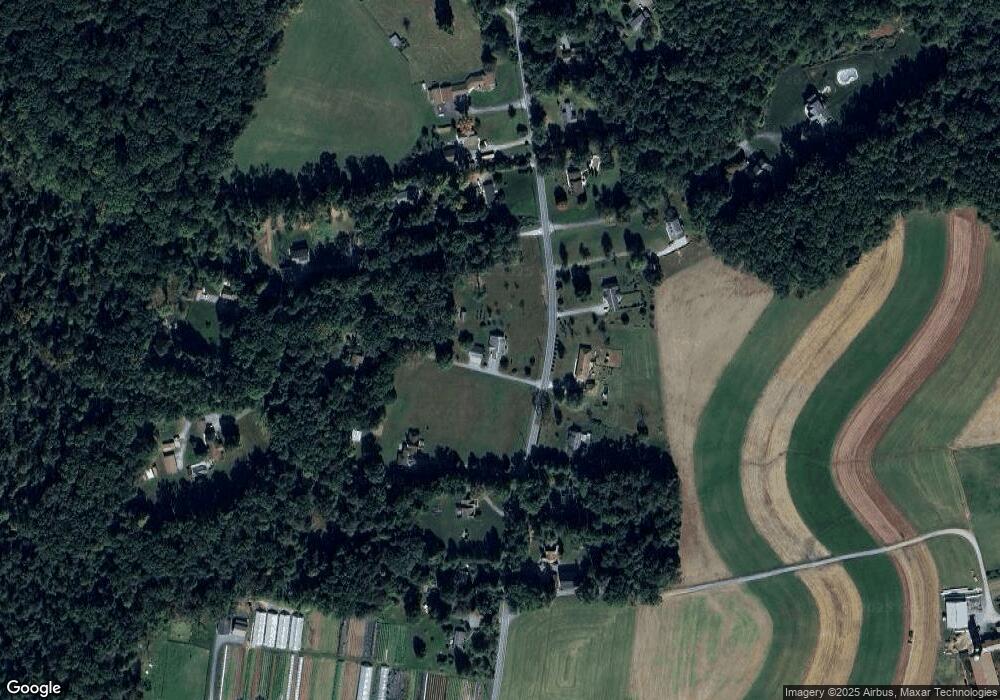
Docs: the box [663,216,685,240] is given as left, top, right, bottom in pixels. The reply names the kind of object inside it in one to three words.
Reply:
house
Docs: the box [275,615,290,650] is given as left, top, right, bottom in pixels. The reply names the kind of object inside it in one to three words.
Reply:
greenhouse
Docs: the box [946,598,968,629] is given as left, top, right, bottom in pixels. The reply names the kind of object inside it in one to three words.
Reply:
barn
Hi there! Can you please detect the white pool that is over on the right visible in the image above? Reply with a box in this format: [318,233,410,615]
[837,67,858,85]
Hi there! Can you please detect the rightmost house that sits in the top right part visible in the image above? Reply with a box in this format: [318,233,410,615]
[804,94,829,123]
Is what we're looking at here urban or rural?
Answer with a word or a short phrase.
rural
